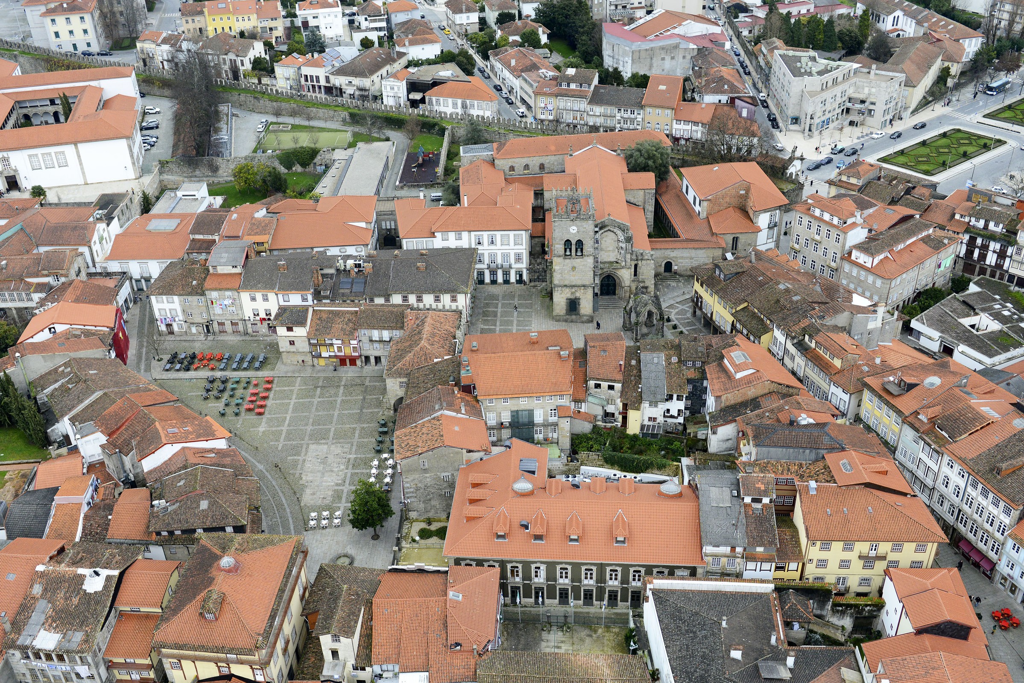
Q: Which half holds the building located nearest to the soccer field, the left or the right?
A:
left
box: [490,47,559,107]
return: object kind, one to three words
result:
house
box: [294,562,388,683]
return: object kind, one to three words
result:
house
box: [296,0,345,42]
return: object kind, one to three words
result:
building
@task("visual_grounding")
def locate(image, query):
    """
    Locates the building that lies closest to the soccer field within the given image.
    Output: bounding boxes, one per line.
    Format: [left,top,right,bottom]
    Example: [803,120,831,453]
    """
[312,142,394,208]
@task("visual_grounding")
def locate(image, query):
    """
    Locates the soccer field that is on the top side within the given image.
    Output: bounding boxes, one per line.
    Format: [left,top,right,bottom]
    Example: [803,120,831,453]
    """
[261,132,347,149]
